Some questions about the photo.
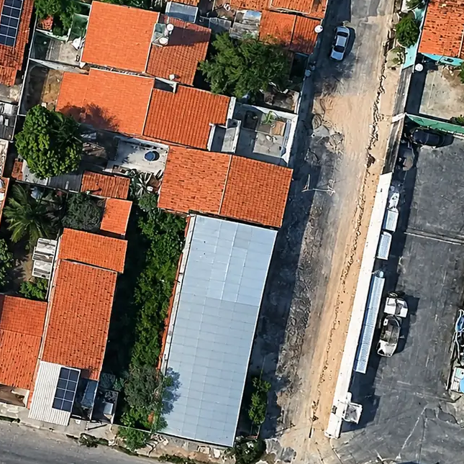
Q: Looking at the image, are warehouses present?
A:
Yes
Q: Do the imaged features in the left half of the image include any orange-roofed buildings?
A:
Yes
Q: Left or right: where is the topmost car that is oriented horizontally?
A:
right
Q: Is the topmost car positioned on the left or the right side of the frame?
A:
right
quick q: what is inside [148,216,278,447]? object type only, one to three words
warehouse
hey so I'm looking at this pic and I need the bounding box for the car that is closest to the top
[327,25,351,62]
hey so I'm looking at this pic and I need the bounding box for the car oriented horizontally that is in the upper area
[403,126,449,148]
